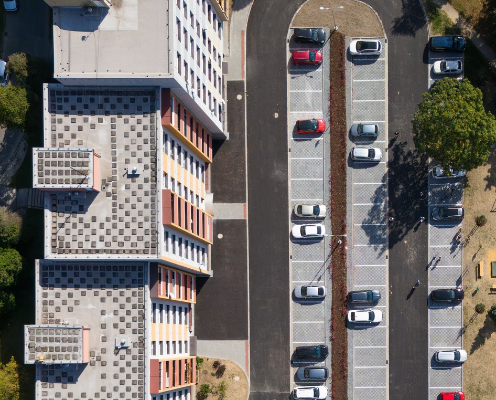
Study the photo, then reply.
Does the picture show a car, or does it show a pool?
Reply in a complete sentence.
The image shows a car.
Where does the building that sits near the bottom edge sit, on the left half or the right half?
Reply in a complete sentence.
You can find the building that sits near the bottom edge on the left side of the picture.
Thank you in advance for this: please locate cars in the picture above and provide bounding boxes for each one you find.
[350,145,383,163]
[430,286,465,303]
[347,288,382,306]
[293,282,328,300]
[433,346,469,365]
[347,308,384,325]
[290,47,323,67]
[431,204,466,222]
[2,0,20,13]
[294,343,330,361]
[290,223,326,240]
[0,58,9,83]
[293,25,327,45]
[297,364,329,382]
[295,117,326,134]
[349,37,383,57]
[438,390,466,400]
[350,121,380,139]
[432,57,463,76]
[294,202,328,219]
[293,384,329,400]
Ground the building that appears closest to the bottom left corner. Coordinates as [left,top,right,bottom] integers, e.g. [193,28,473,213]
[24,261,201,400]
